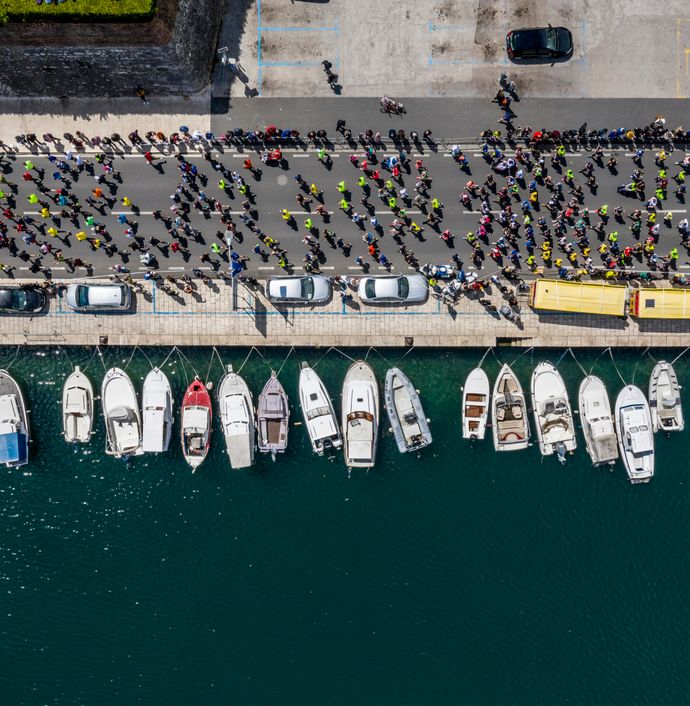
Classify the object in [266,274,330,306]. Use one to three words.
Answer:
car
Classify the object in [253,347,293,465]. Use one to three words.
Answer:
boat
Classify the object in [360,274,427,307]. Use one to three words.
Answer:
car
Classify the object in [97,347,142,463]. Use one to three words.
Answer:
boat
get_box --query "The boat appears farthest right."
[647,348,689,436]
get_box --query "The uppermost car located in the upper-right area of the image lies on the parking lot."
[507,28,573,63]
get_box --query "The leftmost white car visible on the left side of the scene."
[67,282,130,314]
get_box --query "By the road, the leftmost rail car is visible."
[516,279,629,317]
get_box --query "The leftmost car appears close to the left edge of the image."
[0,286,47,317]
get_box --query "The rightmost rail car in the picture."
[622,285,690,320]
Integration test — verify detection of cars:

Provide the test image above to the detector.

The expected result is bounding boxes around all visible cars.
[67,282,130,314]
[266,274,330,306]
[507,28,573,63]
[360,274,427,307]
[0,286,47,317]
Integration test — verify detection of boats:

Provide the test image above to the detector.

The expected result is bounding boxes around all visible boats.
[293,347,341,458]
[491,347,533,451]
[333,347,380,472]
[371,347,429,456]
[608,347,654,484]
[176,347,214,474]
[97,347,142,463]
[0,347,32,470]
[214,347,258,467]
[647,348,689,436]
[568,347,619,466]
[58,347,97,447]
[528,347,576,469]
[463,347,492,445]
[253,347,293,465]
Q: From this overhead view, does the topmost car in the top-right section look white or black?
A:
black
